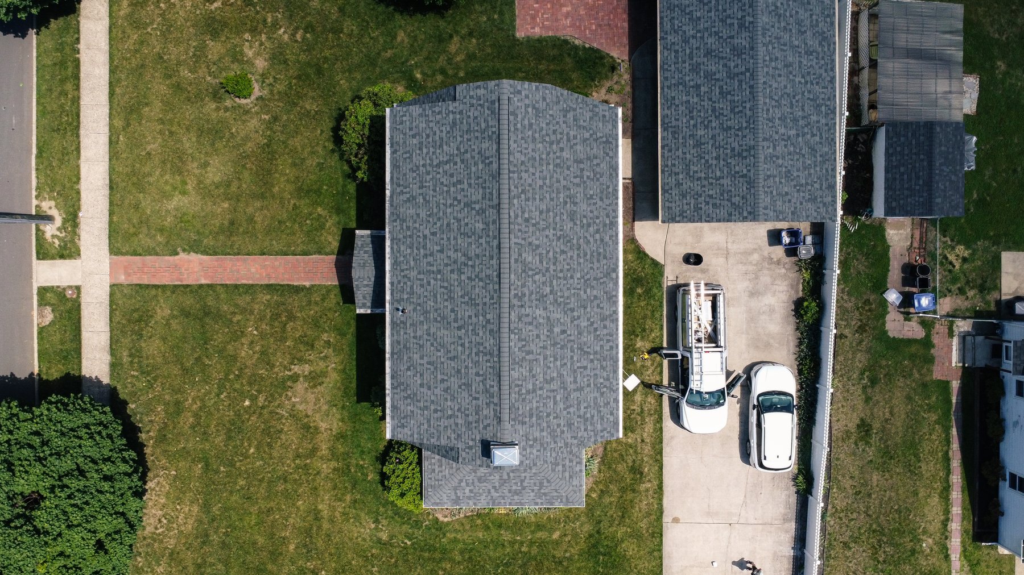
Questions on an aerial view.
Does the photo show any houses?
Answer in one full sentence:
Yes, the photo shows a house.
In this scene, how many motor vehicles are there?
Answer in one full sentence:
In total, there are 2 motor vehicles in the scene.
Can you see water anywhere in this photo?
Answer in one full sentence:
No, no water is visible.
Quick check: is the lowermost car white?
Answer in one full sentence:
Yes, the lowermost car is white.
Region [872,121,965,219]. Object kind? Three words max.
shed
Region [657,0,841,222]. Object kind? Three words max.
building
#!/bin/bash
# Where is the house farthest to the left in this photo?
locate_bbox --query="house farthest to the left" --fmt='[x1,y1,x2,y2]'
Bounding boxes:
[351,80,622,508]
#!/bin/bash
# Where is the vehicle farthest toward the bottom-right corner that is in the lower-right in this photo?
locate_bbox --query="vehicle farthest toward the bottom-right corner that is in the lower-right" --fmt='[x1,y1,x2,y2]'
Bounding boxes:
[744,364,801,474]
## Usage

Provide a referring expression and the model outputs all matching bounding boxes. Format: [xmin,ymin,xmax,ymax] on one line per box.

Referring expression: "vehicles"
[650,283,745,434]
[744,364,801,474]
